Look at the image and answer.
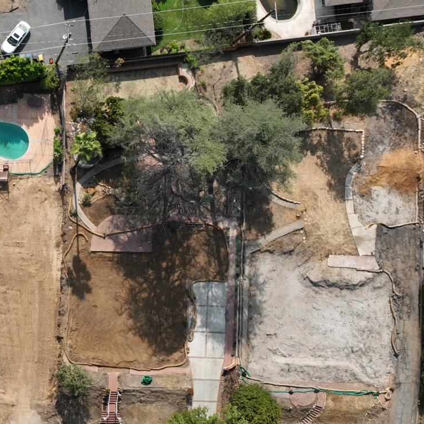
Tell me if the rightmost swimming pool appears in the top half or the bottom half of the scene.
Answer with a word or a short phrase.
top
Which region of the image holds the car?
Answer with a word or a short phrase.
top left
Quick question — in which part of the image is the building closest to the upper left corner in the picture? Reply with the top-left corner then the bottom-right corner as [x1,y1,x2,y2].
[89,0,156,53]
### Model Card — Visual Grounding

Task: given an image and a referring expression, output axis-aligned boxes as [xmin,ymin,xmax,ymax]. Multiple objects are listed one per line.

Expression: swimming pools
[0,119,31,161]
[254,0,300,22]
